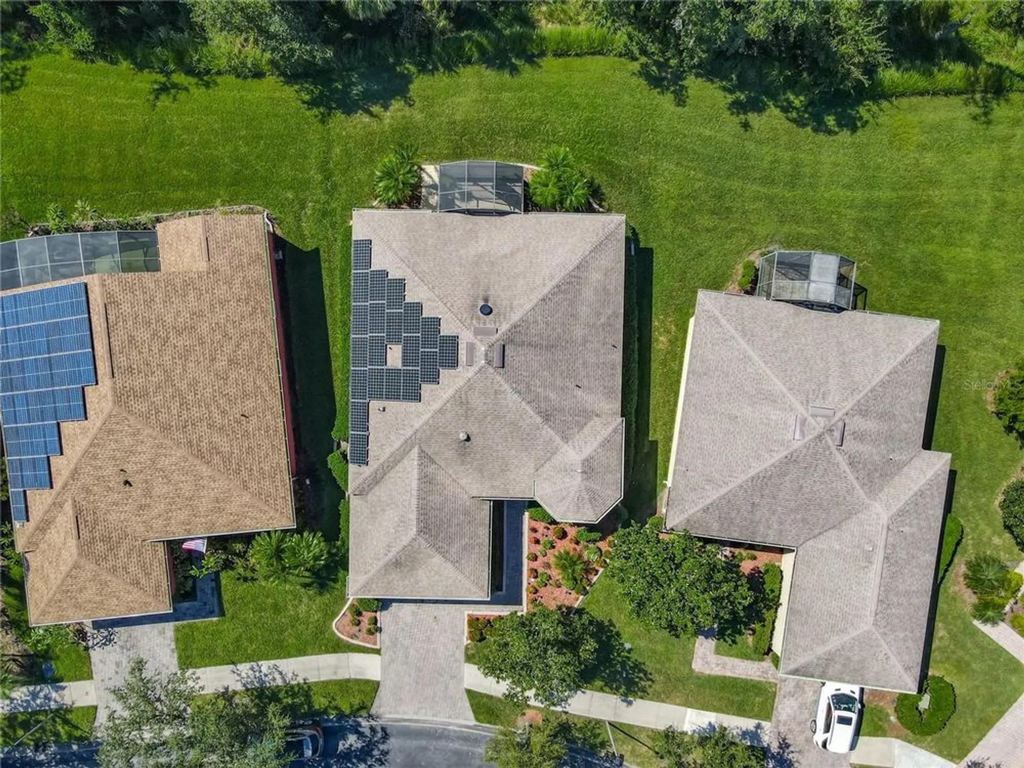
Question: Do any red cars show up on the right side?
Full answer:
No, no red car is visible on the right side.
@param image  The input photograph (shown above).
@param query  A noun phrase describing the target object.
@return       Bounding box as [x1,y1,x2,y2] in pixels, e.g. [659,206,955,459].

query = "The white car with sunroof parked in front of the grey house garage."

[810,682,859,752]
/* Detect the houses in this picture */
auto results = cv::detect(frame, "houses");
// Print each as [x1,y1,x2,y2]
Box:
[0,211,304,627]
[662,287,953,696]
[346,207,633,601]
